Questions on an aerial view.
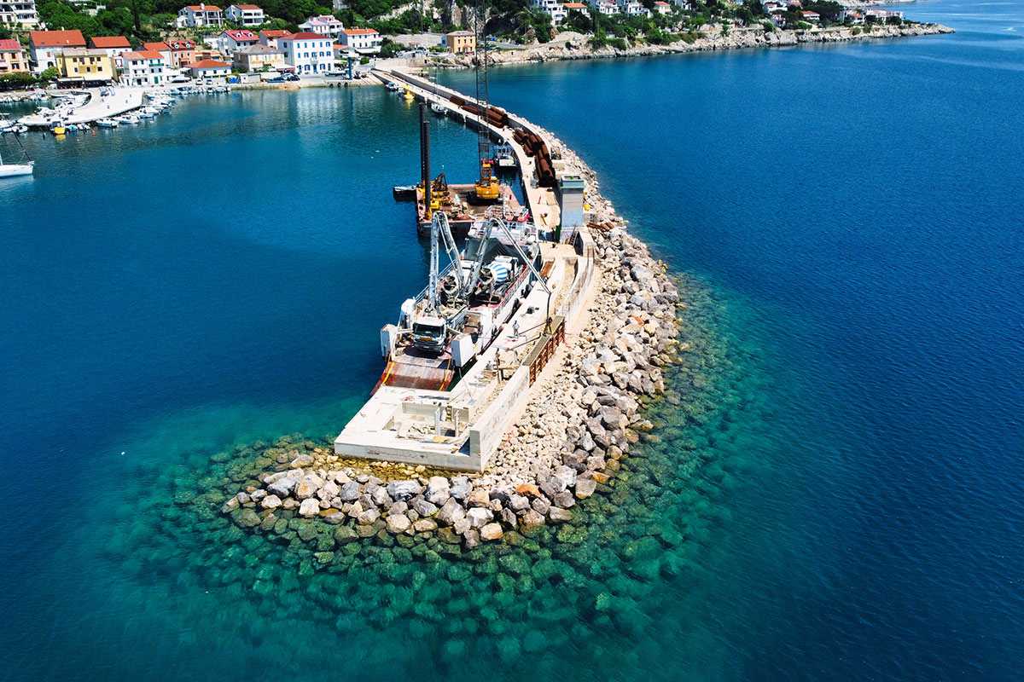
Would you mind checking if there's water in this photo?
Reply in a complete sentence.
Yes, water can be seen from above here.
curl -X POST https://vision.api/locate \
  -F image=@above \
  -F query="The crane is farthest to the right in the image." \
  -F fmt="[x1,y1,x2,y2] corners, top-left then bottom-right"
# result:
[471,0,504,204]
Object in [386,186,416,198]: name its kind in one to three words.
boat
